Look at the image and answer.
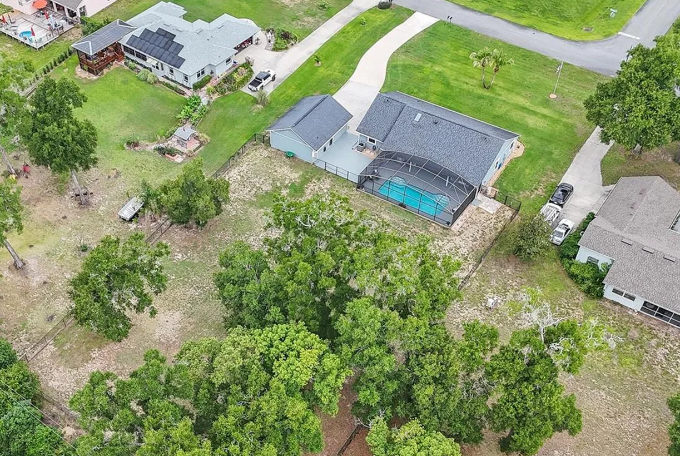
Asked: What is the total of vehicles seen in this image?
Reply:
4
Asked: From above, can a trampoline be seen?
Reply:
No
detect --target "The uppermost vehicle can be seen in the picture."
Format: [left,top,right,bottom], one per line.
[245,71,280,94]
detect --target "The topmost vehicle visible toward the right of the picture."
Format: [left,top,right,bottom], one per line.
[551,179,573,209]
